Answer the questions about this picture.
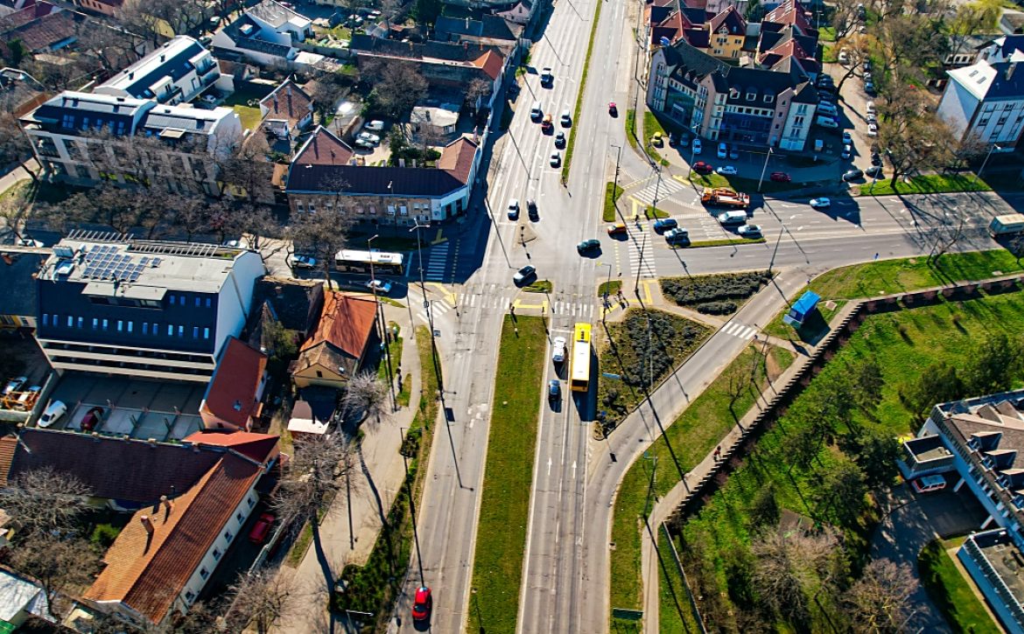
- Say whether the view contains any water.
No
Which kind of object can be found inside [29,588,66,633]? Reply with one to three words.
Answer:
building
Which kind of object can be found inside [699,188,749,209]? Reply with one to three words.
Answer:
truck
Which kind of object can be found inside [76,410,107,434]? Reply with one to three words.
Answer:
car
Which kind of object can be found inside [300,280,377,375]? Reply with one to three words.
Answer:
house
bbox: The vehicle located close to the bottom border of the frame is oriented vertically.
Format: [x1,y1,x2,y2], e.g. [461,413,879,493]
[412,587,432,624]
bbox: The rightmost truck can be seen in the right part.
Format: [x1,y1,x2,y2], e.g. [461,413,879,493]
[993,215,1024,239]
